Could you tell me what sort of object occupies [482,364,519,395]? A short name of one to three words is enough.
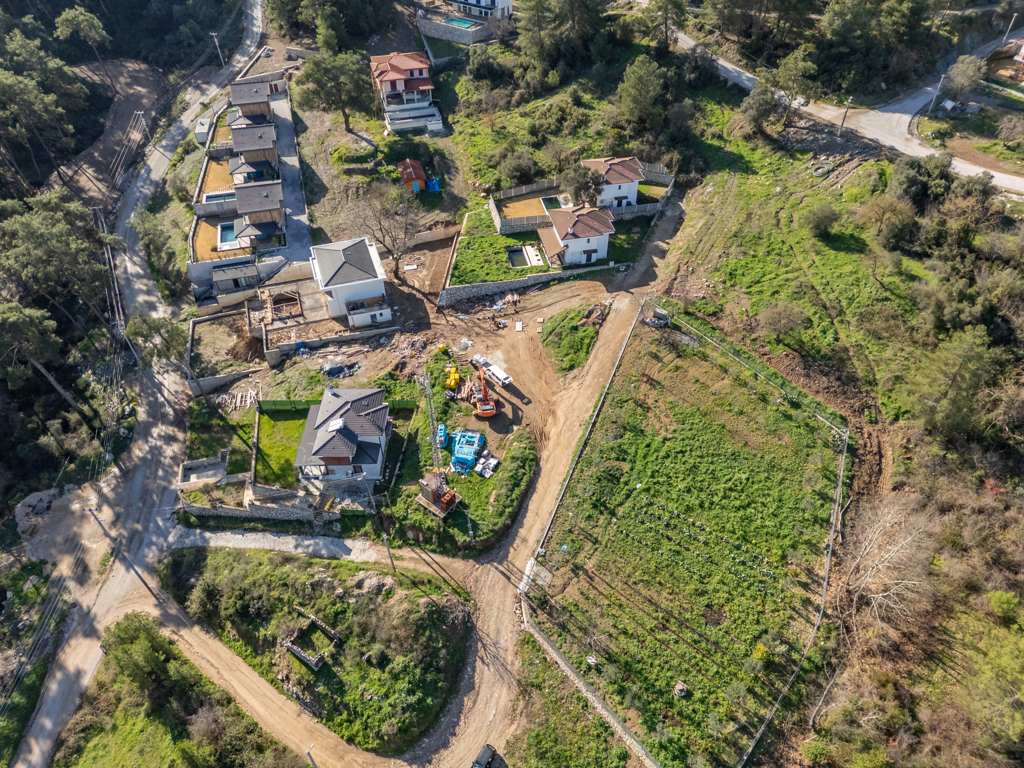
truck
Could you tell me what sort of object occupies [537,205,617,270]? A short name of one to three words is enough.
house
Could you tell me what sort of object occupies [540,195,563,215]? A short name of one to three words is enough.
swimming pool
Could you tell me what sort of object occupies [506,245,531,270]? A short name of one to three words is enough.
swimming pool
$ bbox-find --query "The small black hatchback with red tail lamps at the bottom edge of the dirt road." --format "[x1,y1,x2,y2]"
[468,742,498,768]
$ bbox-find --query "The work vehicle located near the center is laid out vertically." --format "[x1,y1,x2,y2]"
[469,352,501,421]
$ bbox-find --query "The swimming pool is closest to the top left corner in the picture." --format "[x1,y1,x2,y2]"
[202,190,235,203]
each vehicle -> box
[469,352,501,421]
[482,364,519,395]
[468,742,498,768]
